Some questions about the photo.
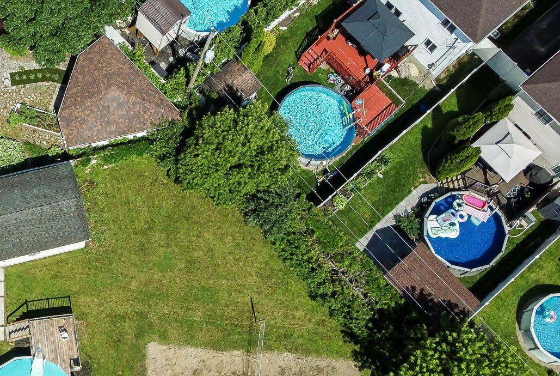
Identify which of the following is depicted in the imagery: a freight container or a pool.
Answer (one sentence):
Looking from above, you can make out a pool.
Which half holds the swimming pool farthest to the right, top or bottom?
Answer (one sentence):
Seen from above, the swimming pool farthest to the right lies in the bottom half of the view.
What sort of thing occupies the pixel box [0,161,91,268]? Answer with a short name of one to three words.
shed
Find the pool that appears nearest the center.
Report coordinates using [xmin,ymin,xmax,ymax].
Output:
[274,86,357,167]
